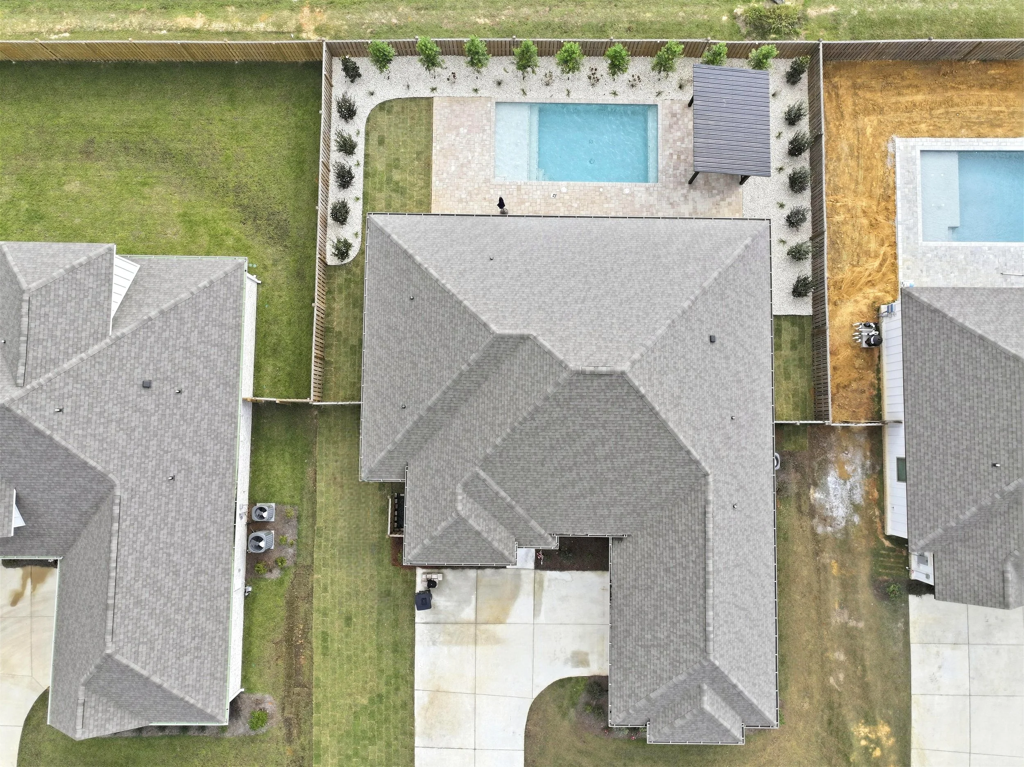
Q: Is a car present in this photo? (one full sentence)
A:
No, there's no car here.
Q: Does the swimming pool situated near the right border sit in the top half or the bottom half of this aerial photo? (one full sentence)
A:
Seen from above, the swimming pool situated near the right border lies in the top half of the view.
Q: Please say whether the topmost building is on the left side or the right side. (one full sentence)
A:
You can find the topmost building on the right side of the picture.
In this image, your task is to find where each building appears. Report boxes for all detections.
[0,240,264,741]
[871,287,1024,610]
[359,213,778,745]
[690,62,771,184]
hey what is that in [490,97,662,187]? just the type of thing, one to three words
swimming pool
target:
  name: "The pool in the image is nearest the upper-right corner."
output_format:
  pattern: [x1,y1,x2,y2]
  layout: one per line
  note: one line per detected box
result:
[916,146,1024,247]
